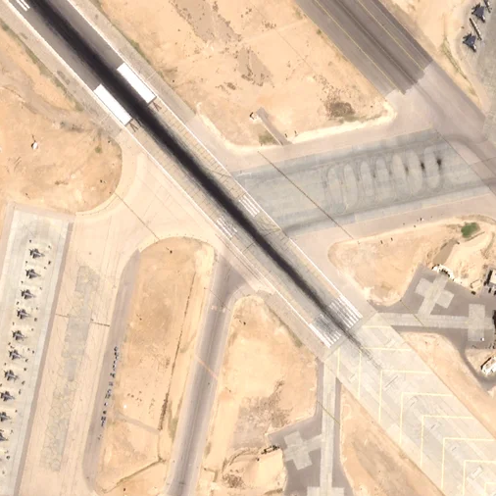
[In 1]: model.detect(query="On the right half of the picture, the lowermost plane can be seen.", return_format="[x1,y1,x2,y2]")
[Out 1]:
[462,31,476,50]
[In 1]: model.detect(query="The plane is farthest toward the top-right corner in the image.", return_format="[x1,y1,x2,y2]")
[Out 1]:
[471,1,485,20]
